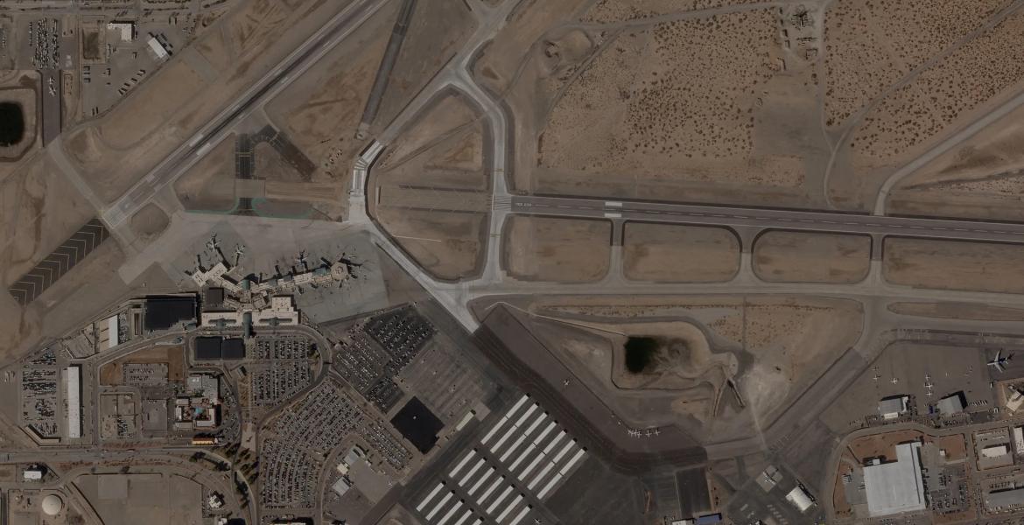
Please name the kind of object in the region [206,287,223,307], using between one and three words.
building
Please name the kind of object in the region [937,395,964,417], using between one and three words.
hangar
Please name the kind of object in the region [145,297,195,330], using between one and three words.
building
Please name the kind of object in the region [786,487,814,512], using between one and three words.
hangar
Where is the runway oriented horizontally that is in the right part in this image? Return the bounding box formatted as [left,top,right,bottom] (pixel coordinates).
[491,194,1024,242]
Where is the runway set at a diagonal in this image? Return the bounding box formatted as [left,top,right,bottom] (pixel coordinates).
[102,0,386,230]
